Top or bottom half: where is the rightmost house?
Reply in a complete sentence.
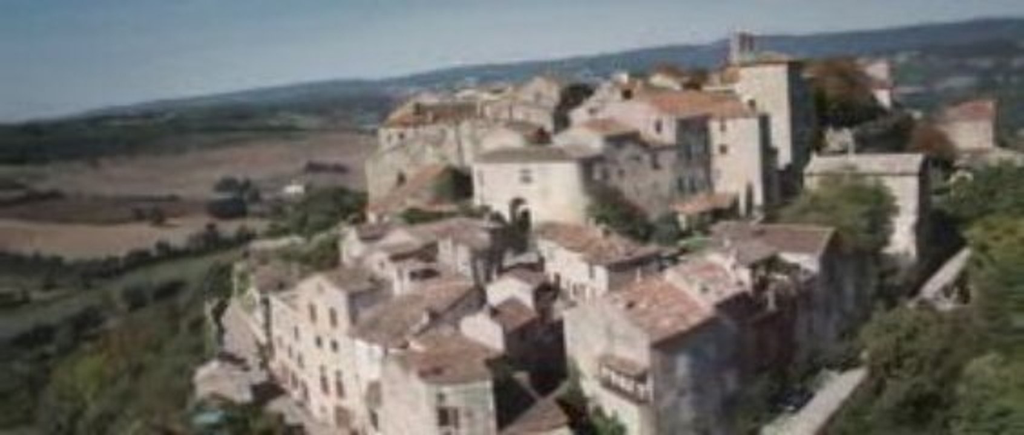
The rightmost house is in the top half of the image.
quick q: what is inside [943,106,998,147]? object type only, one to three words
house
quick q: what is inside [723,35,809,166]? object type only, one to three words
building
